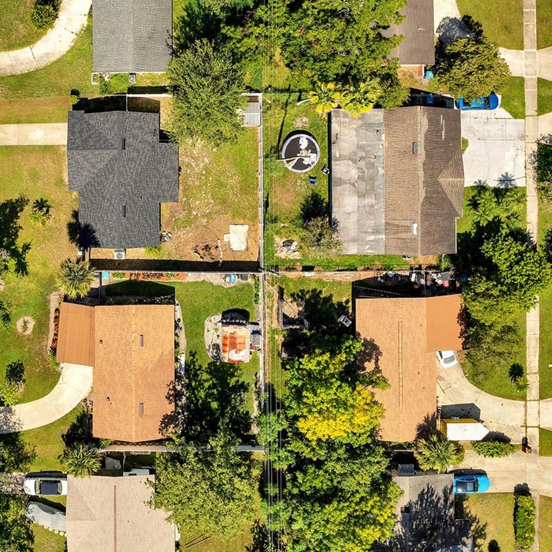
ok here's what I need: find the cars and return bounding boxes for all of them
[23,473,70,496]
[437,350,456,369]
[446,471,489,495]
[453,91,498,112]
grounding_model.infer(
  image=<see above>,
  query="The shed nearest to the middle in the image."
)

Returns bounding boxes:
[219,321,251,363]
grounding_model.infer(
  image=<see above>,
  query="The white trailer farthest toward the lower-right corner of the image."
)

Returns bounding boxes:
[438,415,491,440]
